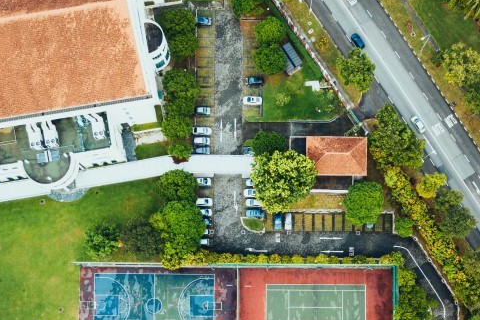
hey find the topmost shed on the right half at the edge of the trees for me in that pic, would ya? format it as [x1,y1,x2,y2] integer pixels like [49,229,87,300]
[280,42,302,74]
